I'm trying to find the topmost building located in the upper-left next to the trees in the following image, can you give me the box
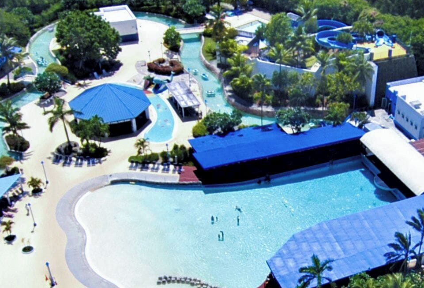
[91,4,139,45]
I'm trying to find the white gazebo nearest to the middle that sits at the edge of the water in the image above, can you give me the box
[165,81,198,120]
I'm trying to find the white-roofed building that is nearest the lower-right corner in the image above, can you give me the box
[359,125,424,198]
